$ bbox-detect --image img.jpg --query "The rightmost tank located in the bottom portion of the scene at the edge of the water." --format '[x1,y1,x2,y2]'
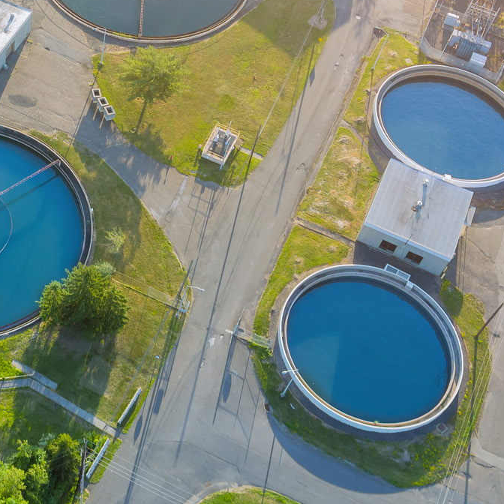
[275,265,463,433]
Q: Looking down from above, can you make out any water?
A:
Yes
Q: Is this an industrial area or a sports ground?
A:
industrial area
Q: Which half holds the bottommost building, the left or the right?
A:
right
